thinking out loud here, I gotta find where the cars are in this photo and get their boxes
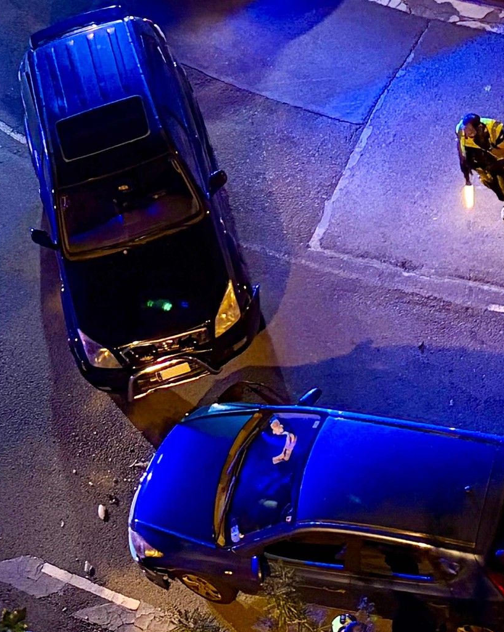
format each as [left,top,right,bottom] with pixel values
[23,0,258,408]
[127,396,504,632]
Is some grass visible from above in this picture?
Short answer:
No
